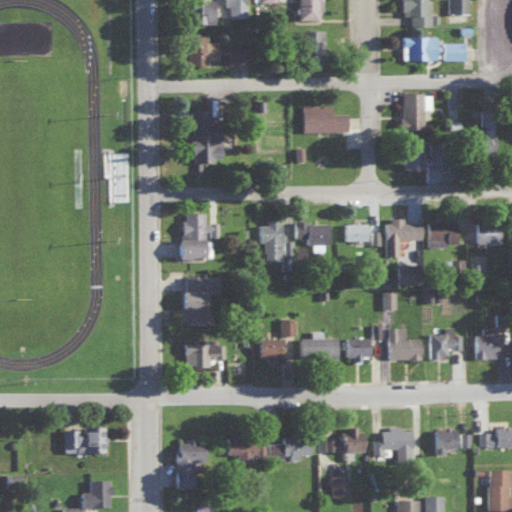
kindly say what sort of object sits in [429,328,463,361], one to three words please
house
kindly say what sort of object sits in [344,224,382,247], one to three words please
house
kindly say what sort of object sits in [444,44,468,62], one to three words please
building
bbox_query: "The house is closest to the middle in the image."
[258,222,288,262]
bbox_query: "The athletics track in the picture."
[0,0,104,370]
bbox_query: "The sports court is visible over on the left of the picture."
[0,22,52,56]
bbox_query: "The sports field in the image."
[0,4,90,358]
